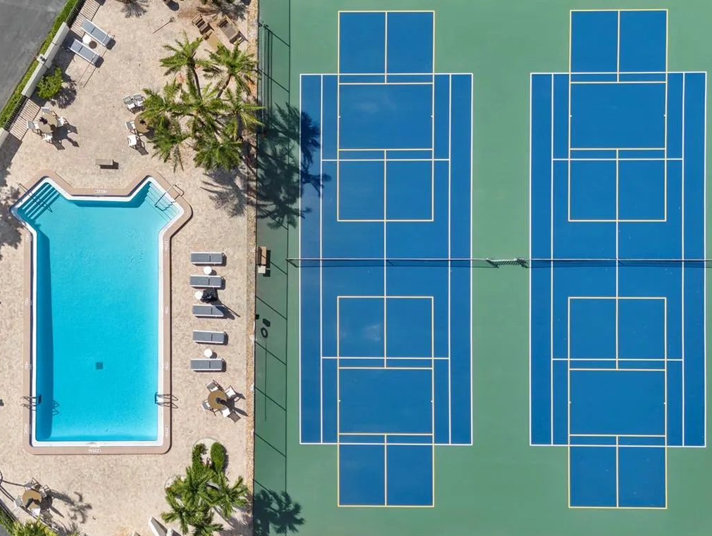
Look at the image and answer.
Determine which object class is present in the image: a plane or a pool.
pool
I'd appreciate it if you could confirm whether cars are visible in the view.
No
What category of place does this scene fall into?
sports ground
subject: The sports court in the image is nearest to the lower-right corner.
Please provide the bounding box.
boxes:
[569,297,667,508]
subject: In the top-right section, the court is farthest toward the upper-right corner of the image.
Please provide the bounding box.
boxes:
[569,9,667,221]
